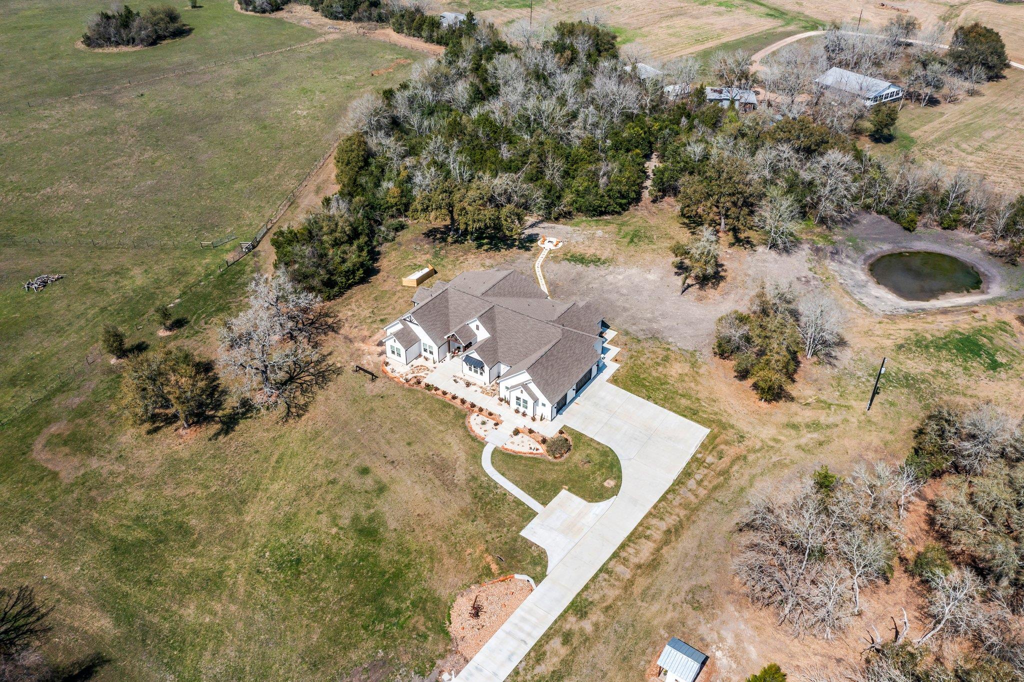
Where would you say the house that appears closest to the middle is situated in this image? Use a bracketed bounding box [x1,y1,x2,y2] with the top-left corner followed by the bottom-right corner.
[381,270,604,421]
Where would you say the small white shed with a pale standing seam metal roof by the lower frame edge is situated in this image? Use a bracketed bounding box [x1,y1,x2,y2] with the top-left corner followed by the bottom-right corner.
[656,642,705,682]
